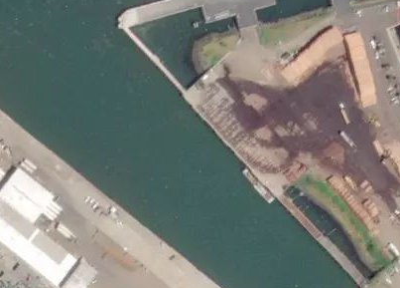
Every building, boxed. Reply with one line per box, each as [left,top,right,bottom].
[62,259,98,288]
[0,168,55,223]
[0,218,78,286]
